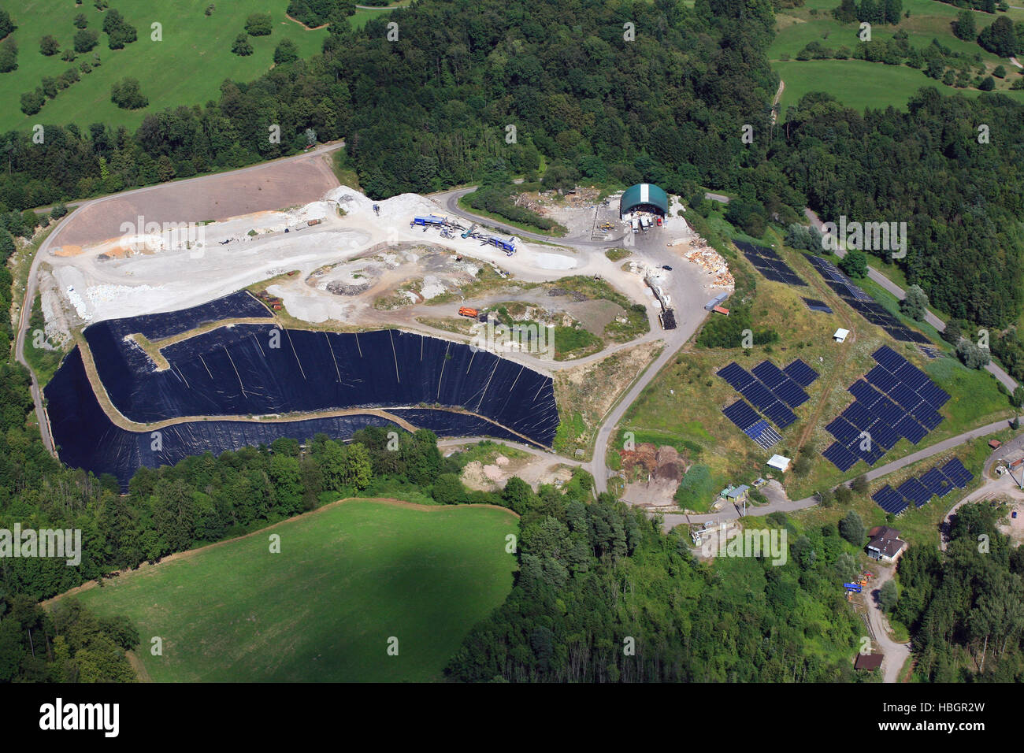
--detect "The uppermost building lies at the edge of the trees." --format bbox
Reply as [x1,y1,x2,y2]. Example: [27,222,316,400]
[622,181,669,215]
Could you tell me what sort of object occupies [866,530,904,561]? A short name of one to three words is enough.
house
